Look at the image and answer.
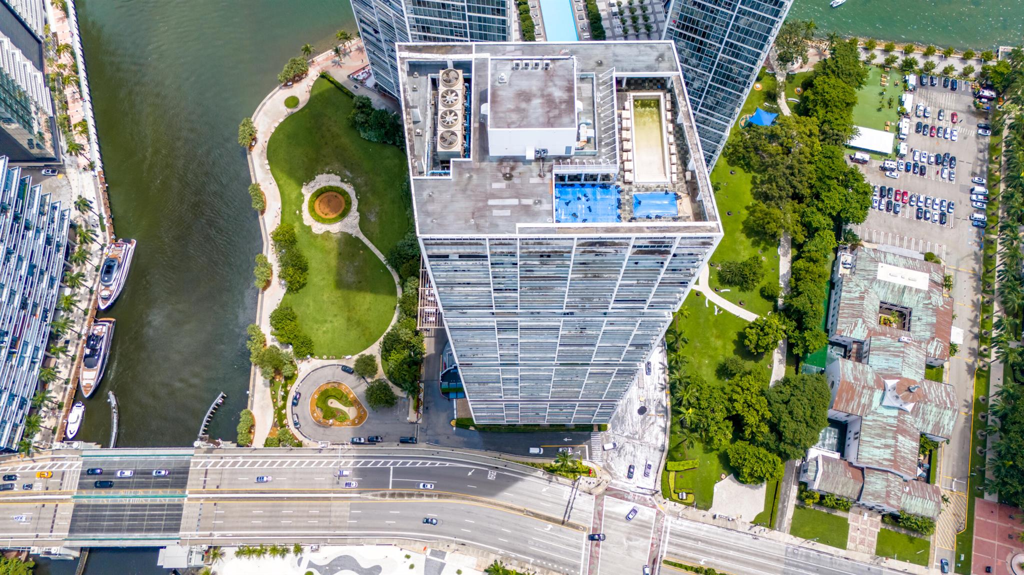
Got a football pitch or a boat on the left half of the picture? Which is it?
boat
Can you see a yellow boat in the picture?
No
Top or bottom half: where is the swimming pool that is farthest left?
top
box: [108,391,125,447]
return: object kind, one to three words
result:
pier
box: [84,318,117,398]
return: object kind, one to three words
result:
boat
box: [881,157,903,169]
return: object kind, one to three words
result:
vehicle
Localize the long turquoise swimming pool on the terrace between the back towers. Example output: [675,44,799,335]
[539,0,579,41]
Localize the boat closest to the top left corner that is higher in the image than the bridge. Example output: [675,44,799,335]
[100,238,134,309]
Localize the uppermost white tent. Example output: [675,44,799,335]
[846,126,894,157]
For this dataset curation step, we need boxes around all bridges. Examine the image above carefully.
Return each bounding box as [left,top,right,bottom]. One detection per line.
[0,436,359,562]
